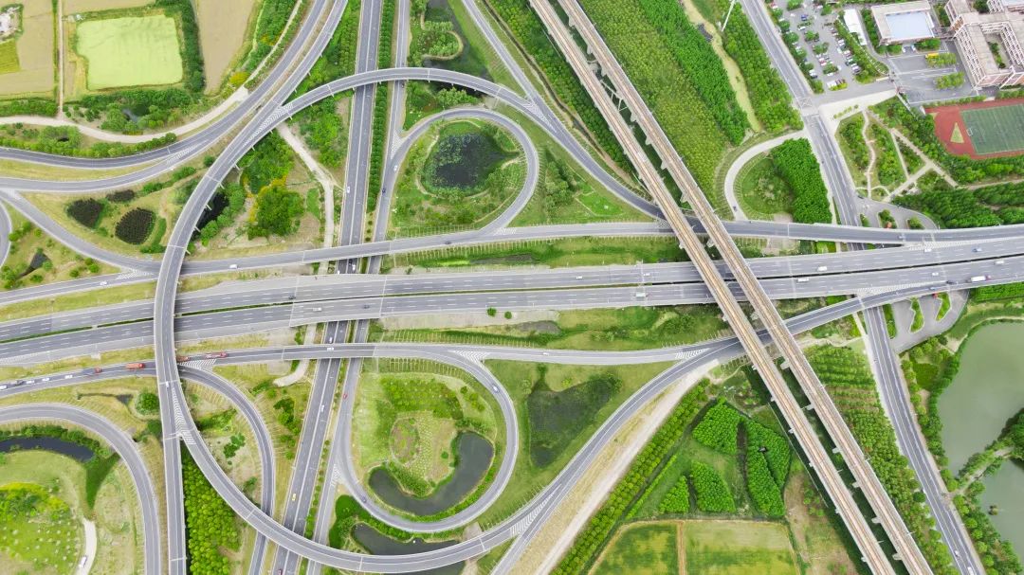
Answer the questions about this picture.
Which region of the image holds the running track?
top right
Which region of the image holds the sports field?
top right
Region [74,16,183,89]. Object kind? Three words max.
pond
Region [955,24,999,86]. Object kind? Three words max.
building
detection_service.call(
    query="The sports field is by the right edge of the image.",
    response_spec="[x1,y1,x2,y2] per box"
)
[924,97,1024,160]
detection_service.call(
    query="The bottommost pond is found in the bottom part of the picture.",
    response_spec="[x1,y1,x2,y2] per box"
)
[354,526,466,575]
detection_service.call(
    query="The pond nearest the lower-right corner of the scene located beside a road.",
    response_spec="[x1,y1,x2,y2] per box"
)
[528,374,619,468]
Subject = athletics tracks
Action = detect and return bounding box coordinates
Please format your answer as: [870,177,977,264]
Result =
[924,97,1024,160]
